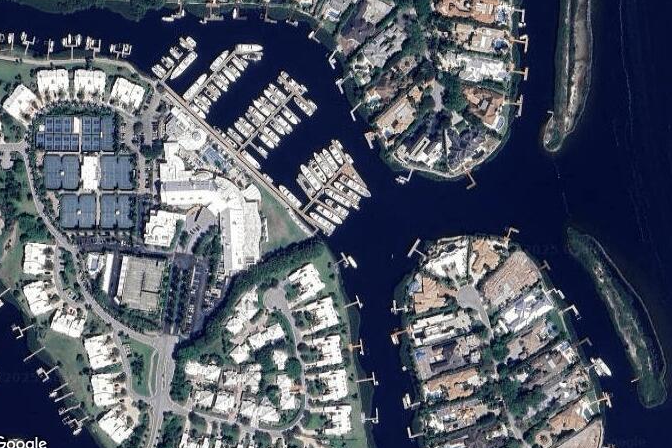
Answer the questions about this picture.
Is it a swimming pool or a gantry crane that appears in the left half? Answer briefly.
swimming pool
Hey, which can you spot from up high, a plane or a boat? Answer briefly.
boat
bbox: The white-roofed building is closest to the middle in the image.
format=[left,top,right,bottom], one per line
[286,265,326,304]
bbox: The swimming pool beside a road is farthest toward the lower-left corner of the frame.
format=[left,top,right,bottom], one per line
[89,254,104,274]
